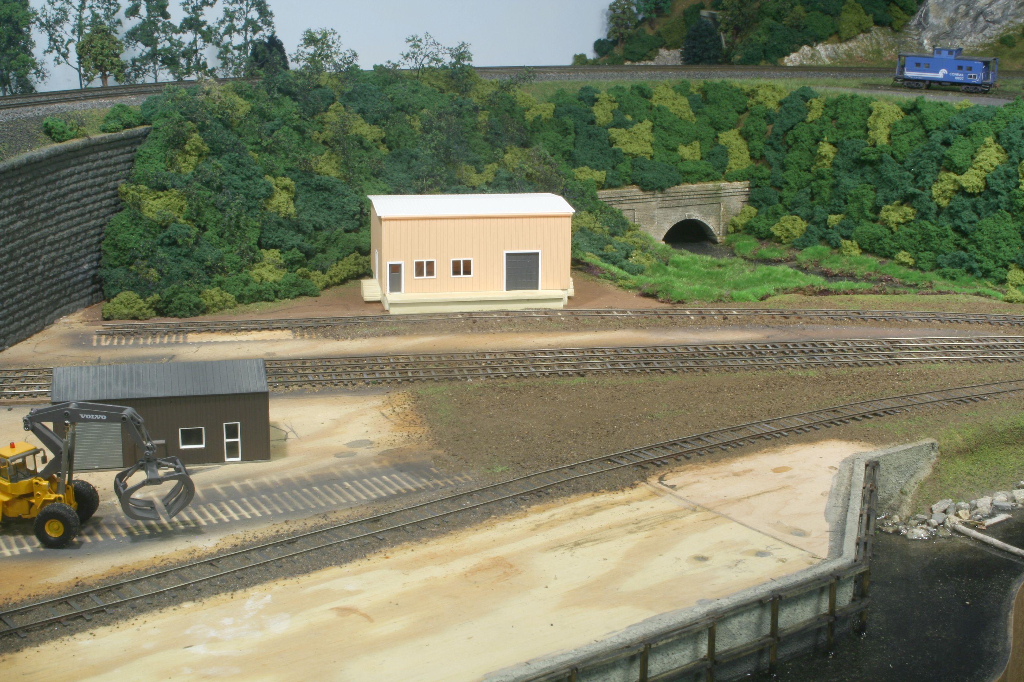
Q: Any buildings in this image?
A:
Yes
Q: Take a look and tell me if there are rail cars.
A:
No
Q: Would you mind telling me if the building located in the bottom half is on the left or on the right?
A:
left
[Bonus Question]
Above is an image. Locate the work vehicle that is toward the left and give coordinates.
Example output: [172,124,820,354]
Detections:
[0,401,195,548]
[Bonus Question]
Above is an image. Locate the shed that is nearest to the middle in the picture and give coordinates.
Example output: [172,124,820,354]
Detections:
[363,192,576,314]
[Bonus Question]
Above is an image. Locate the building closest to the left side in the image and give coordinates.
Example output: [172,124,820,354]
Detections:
[51,354,272,474]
